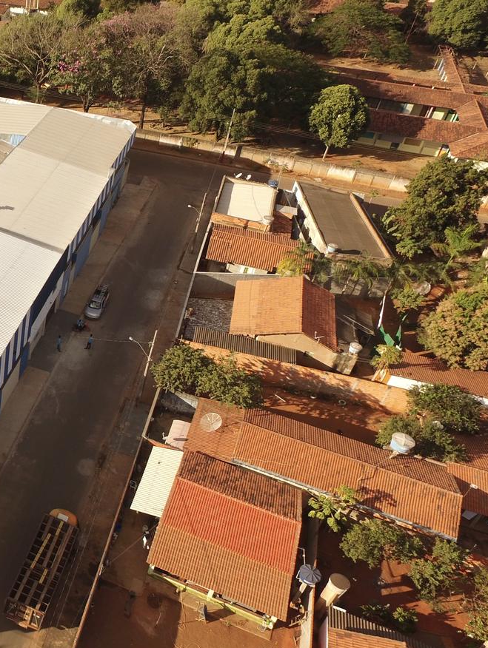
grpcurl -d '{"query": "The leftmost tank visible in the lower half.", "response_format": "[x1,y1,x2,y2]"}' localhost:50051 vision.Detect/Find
[287,563,328,612]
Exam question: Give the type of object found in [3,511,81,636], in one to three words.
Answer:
bus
